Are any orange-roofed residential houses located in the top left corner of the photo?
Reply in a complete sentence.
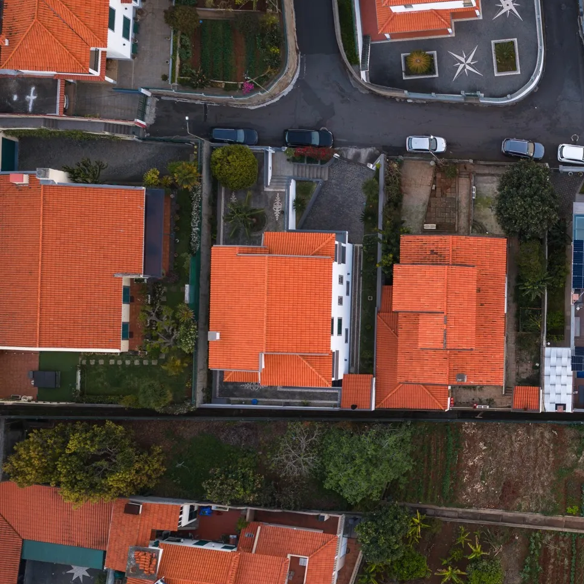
Yes, you'll find an orange-roofed residential house in the top left corner of the photo.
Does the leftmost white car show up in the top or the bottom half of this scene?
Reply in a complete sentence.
The leftmost white car sits in the top half of the picture.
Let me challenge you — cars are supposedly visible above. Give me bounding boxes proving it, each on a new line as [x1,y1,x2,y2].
[501,139,545,160]
[212,126,262,147]
[287,129,335,150]
[407,134,447,155]
[557,145,584,165]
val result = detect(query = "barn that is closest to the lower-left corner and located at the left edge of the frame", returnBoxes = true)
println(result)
[0,479,123,584]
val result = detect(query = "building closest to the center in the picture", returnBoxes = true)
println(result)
[208,231,353,387]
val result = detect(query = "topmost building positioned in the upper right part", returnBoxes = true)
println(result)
[378,0,483,46]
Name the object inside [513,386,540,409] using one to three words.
shed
